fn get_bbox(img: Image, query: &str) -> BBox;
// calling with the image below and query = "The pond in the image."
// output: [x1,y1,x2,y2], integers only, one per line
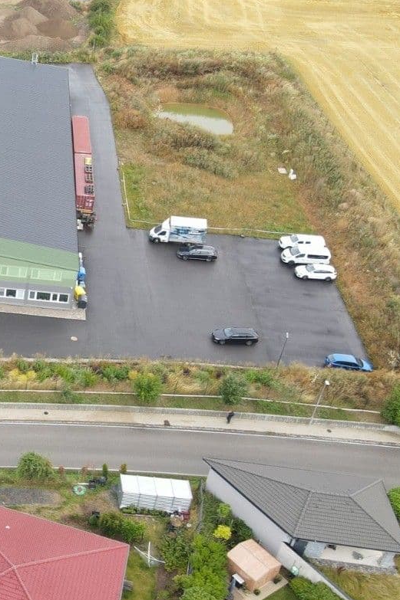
[154,103,236,135]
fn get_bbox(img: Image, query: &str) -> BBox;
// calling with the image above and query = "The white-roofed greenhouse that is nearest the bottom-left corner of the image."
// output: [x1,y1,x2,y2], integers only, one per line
[116,474,193,514]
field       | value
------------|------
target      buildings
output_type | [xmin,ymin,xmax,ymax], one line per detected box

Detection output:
[226,540,280,593]
[116,474,193,514]
[0,55,83,309]
[0,507,131,600]
[202,457,400,574]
